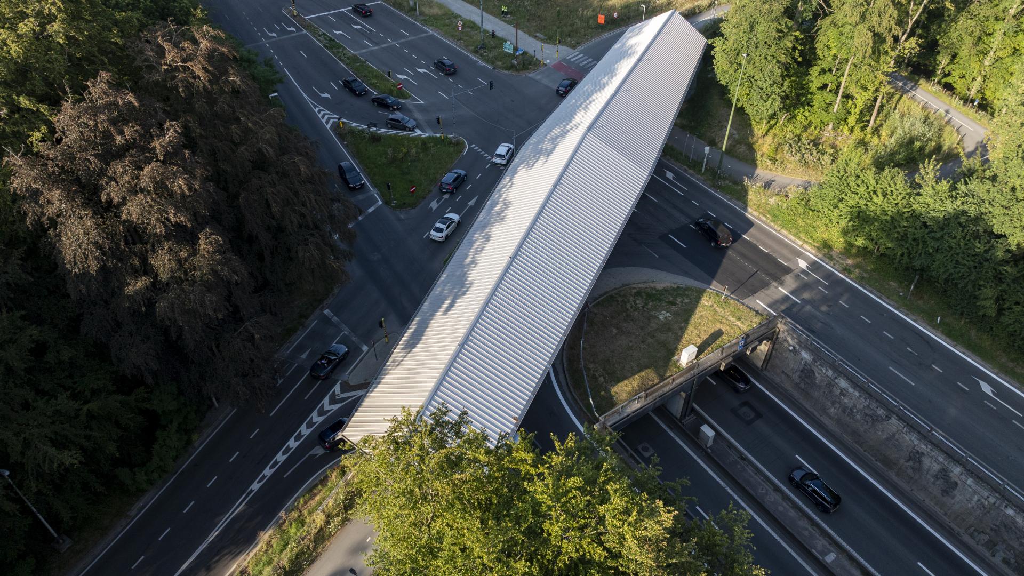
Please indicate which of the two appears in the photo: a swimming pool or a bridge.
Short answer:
bridge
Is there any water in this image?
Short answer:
No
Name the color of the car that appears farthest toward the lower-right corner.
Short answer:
black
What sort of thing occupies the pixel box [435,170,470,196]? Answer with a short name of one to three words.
car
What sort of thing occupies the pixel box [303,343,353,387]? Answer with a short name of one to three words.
car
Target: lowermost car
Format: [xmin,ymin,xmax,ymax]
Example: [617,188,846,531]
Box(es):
[783,464,847,519]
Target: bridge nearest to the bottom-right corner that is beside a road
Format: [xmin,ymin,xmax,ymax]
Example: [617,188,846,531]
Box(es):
[592,312,793,432]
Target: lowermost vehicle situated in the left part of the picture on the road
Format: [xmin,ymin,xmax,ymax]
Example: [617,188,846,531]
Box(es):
[303,408,353,464]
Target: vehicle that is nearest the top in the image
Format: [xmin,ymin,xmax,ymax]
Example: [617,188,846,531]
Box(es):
[351,5,373,18]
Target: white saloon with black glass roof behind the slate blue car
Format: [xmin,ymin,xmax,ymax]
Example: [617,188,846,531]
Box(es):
[426,215,463,245]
